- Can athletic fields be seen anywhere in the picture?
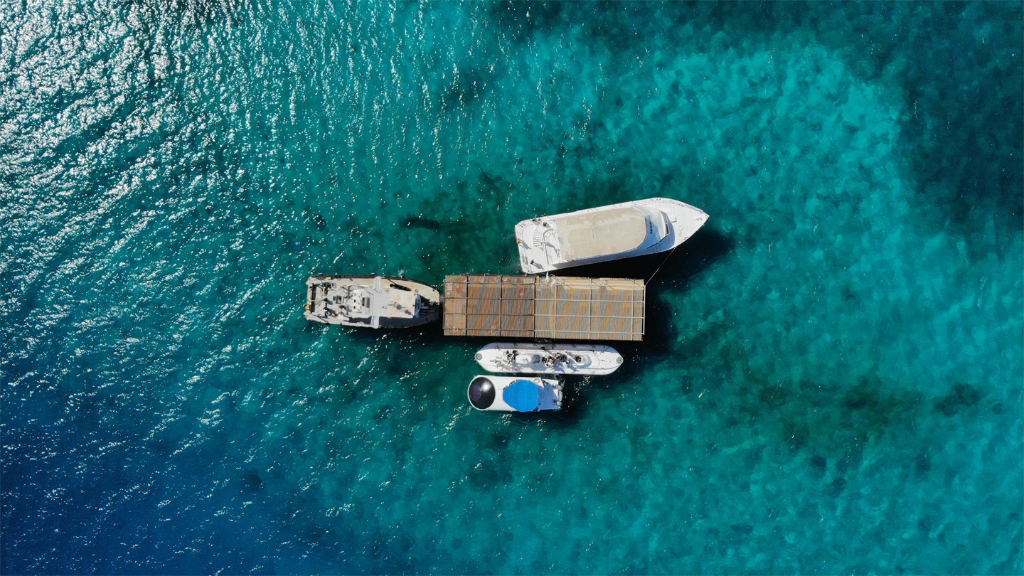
No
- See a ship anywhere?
Yes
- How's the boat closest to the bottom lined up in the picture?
horizontally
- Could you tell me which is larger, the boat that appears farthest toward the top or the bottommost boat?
the boat that appears farthest toward the top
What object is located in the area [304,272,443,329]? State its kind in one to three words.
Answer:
boat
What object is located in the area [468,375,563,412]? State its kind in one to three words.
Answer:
boat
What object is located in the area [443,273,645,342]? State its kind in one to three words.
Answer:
ship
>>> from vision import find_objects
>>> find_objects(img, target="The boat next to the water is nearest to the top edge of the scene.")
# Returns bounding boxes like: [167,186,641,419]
[515,198,710,274]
